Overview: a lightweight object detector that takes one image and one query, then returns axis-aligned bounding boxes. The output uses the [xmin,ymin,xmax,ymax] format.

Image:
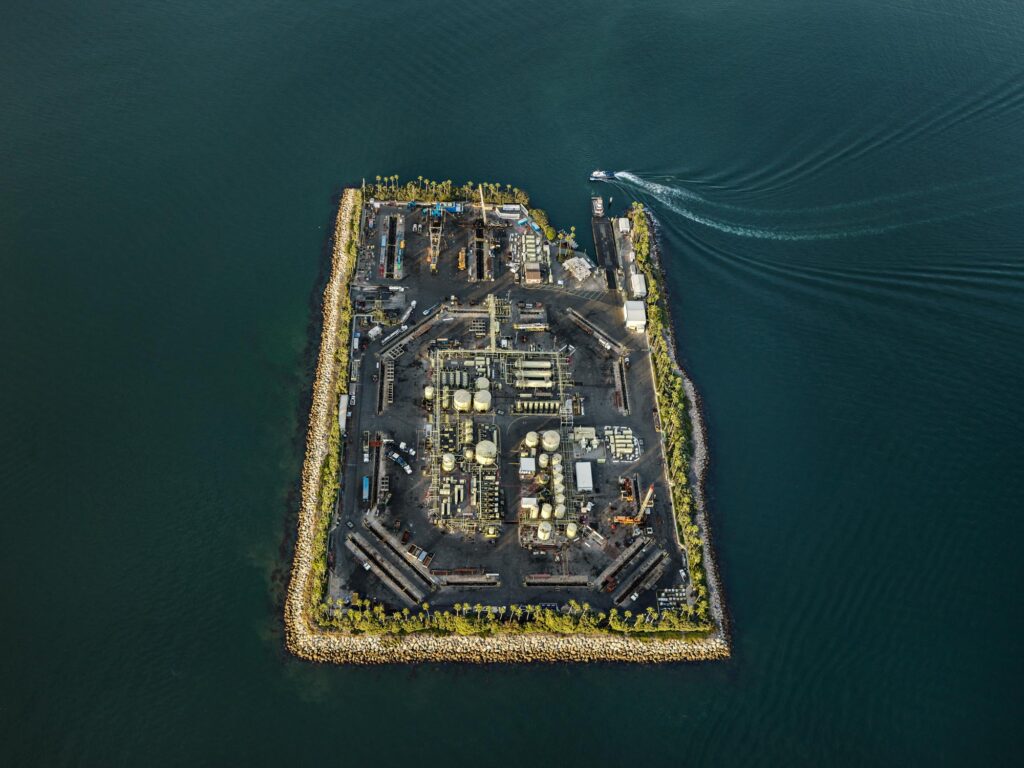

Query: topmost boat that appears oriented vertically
[592,195,605,218]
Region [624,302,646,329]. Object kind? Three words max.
building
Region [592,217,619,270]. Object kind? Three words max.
ship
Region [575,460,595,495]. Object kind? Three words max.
shed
